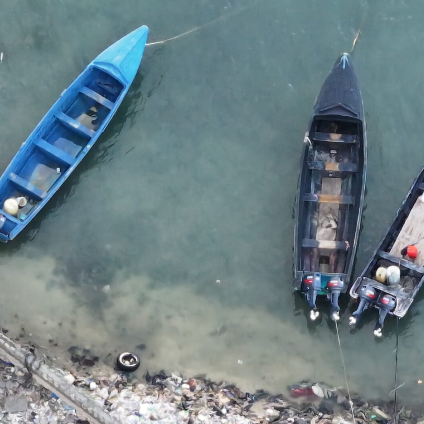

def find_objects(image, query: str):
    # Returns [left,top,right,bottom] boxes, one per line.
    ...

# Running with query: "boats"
[0,23,152,252]
[294,52,365,328]
[347,167,424,346]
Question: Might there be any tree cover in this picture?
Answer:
No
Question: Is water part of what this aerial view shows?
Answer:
Yes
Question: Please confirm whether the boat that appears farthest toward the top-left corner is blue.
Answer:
Yes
